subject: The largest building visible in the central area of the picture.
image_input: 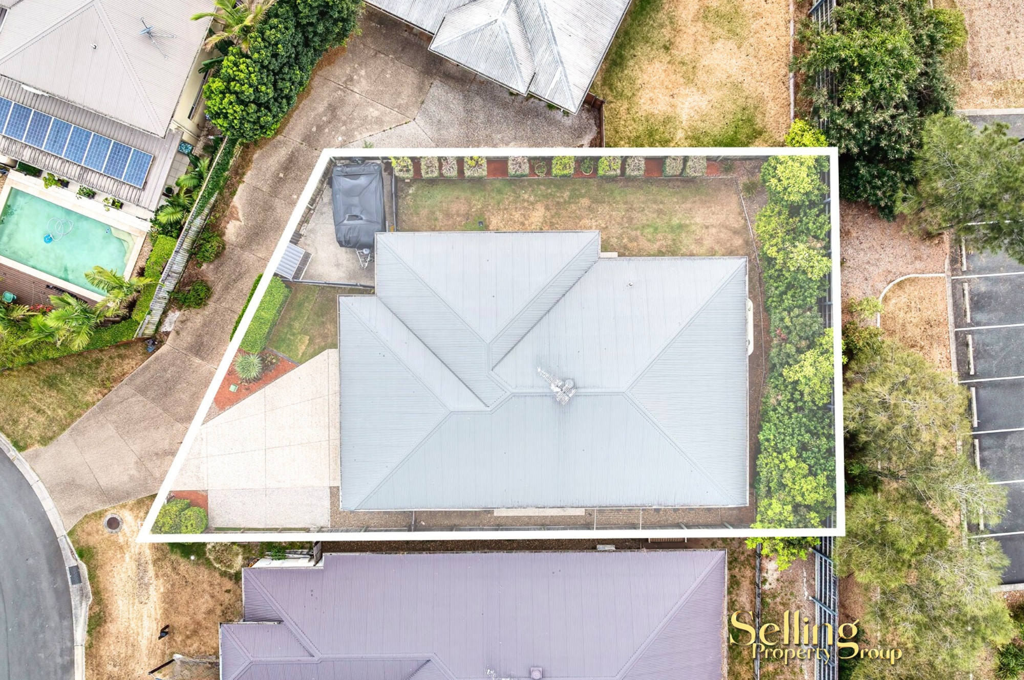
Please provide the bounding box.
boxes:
[339,231,748,510]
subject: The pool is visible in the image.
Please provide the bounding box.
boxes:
[0,172,147,306]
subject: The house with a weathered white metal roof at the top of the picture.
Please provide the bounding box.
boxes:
[351,0,631,114]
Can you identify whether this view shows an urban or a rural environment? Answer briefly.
urban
